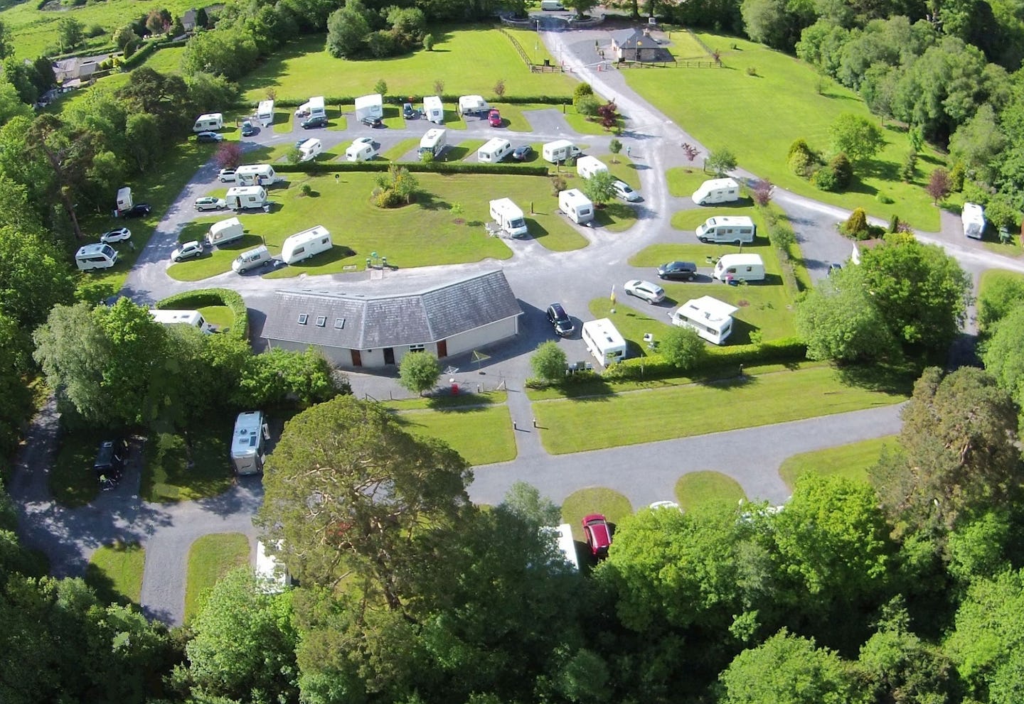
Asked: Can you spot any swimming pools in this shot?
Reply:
No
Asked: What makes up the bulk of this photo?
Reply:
trees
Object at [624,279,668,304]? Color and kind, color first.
white car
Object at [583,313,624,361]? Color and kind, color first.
white camper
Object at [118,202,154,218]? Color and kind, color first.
black car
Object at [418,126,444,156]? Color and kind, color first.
white camper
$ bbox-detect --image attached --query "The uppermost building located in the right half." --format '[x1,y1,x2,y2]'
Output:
[613,21,660,61]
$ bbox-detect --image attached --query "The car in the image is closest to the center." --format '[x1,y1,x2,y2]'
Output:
[549,302,573,335]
